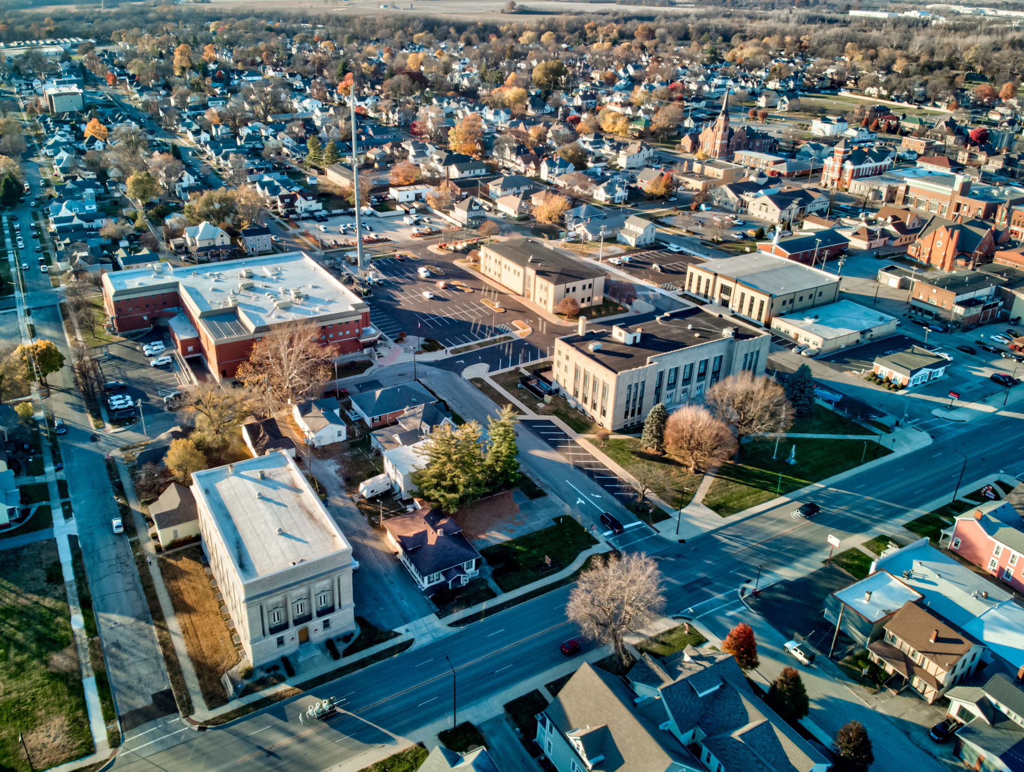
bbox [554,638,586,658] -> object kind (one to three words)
car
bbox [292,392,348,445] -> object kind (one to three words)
house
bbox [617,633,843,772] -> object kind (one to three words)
house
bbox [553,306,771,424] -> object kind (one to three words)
building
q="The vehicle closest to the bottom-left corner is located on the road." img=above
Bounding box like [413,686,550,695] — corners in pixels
[111,517,126,534]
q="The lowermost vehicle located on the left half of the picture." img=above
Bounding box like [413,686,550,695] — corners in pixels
[299,696,344,723]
